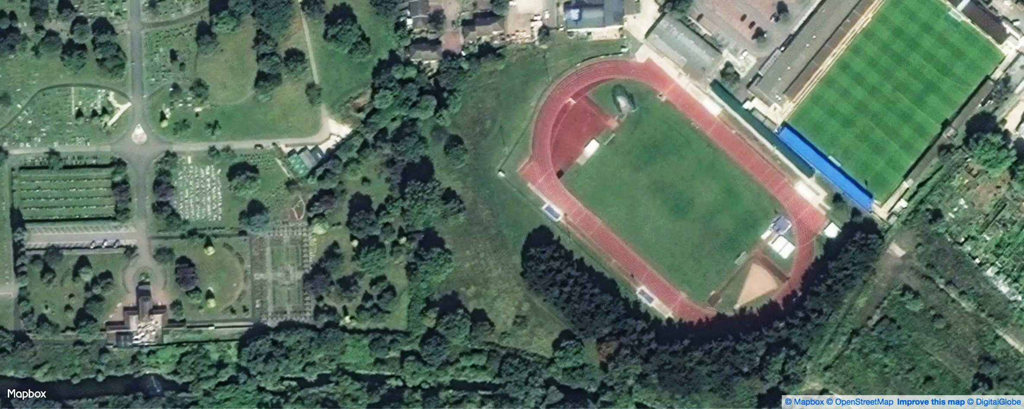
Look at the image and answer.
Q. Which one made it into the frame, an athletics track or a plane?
athletics track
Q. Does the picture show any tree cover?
Yes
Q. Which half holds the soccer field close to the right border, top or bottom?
top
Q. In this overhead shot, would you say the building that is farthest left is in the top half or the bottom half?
bottom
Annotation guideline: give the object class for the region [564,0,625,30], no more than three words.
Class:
building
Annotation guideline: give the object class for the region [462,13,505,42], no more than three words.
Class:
house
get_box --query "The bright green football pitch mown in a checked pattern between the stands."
[787,0,1004,202]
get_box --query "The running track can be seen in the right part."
[519,60,827,334]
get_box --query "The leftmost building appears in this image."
[106,285,185,348]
